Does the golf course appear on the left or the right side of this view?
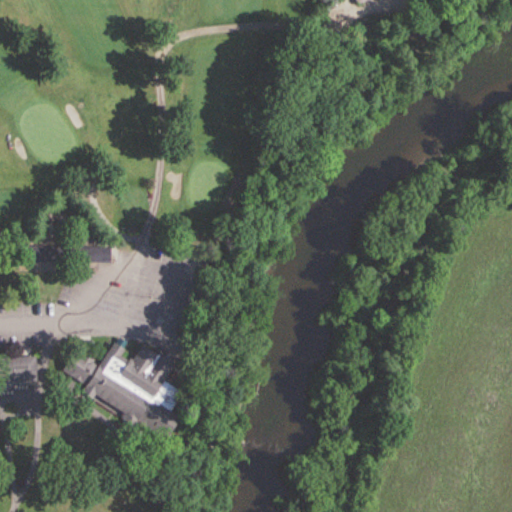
left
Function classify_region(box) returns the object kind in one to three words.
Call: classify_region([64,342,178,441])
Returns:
building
